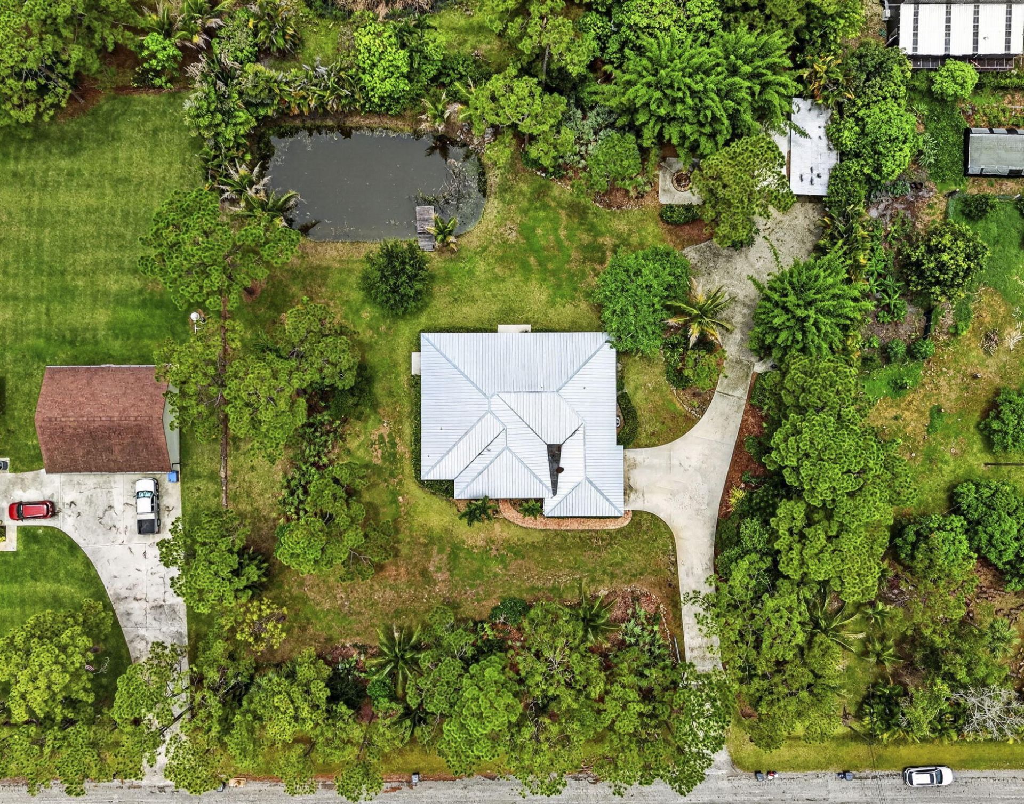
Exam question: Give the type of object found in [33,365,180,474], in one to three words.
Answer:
building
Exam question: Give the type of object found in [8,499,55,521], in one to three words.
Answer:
car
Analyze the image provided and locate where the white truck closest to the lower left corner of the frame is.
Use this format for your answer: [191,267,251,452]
[134,478,163,535]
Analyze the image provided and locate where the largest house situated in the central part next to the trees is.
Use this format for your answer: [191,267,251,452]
[420,332,624,517]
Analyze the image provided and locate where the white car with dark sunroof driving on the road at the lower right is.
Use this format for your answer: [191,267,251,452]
[902,760,952,787]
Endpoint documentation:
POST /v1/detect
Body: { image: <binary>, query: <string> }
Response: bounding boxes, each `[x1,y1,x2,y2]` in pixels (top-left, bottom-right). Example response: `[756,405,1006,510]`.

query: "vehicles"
[902,760,952,787]
[134,478,163,535]
[8,499,55,521]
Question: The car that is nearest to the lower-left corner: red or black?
red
